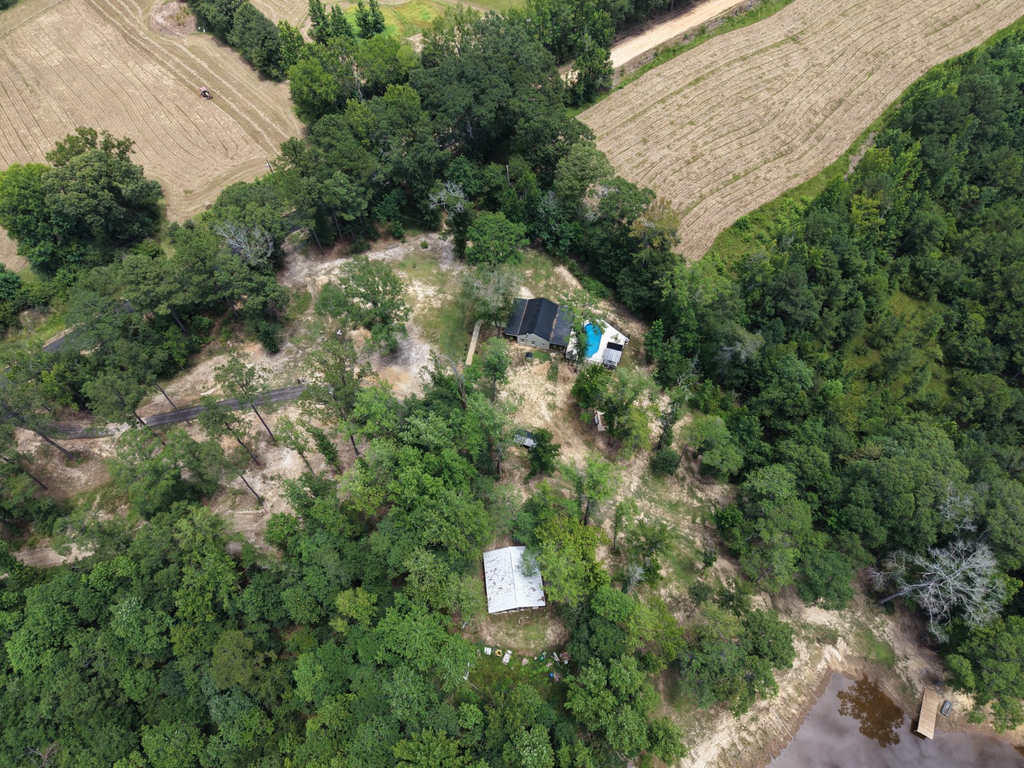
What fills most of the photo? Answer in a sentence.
What you mostly see from above here is trees.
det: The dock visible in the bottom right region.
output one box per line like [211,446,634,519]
[914,689,938,739]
